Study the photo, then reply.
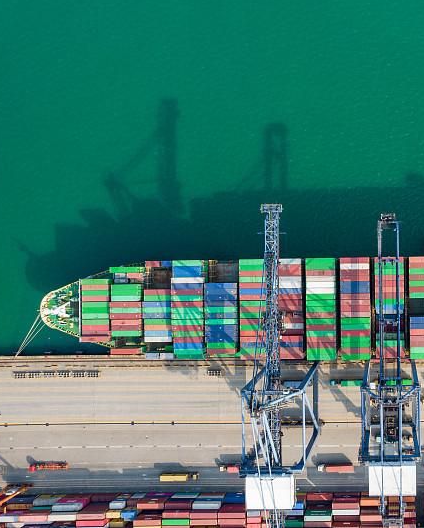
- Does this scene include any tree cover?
No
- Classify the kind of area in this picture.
port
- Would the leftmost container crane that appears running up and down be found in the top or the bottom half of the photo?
bottom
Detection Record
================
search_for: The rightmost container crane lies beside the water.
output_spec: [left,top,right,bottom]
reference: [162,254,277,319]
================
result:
[357,209,424,528]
